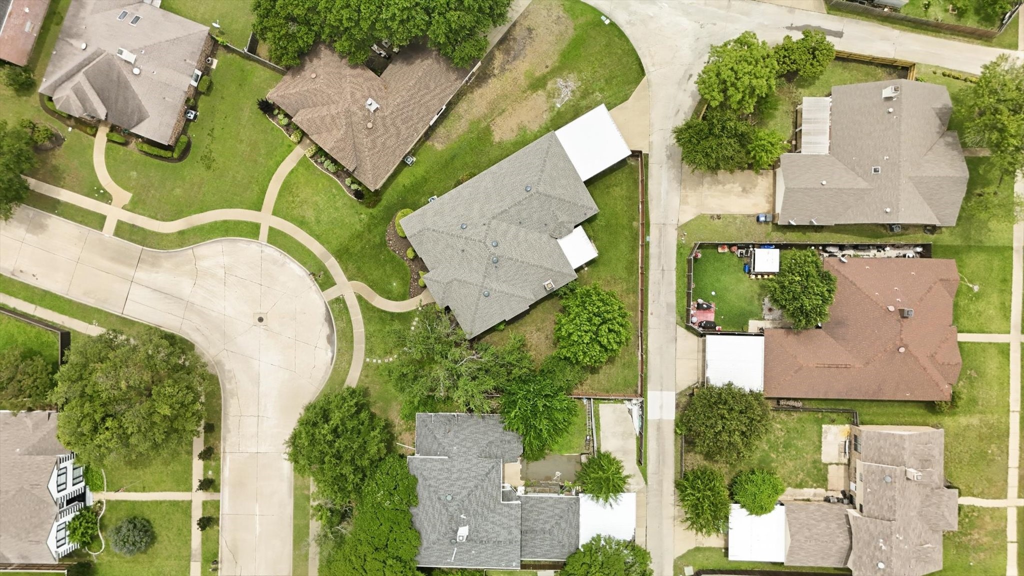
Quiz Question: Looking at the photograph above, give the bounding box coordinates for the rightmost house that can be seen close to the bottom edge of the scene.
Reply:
[784,426,958,576]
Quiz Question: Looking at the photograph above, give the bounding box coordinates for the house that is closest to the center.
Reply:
[400,131,599,337]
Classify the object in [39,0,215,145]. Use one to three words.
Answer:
house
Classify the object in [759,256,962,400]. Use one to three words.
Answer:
house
